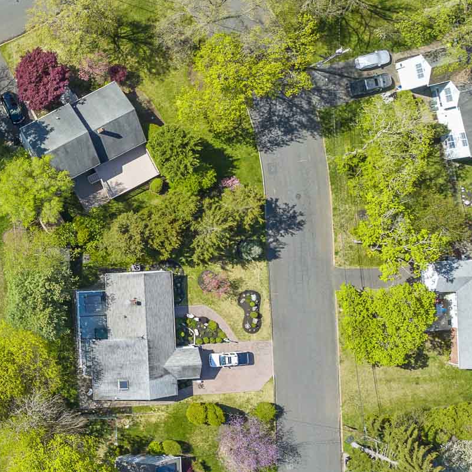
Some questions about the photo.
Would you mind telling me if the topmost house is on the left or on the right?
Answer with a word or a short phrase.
right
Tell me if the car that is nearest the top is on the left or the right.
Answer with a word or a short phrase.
right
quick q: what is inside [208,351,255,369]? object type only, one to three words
vehicle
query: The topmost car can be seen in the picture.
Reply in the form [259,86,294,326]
[353,50,392,71]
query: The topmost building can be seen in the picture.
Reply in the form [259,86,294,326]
[399,47,463,91]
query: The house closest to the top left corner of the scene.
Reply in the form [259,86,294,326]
[16,81,147,190]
